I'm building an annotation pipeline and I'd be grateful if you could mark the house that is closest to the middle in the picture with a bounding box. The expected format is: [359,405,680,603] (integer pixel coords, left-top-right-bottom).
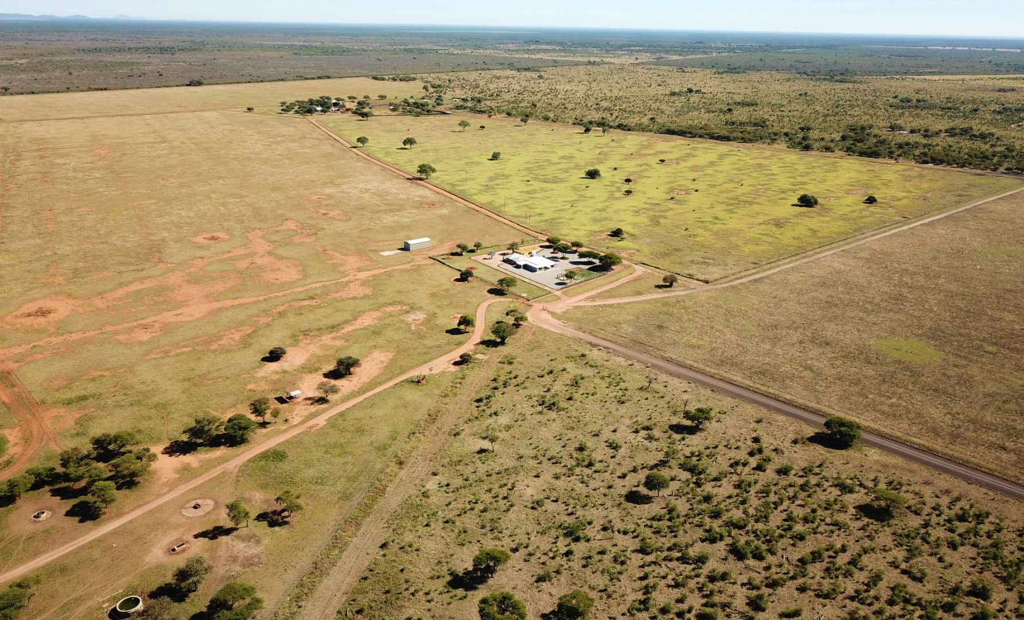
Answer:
[506,253,555,272]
